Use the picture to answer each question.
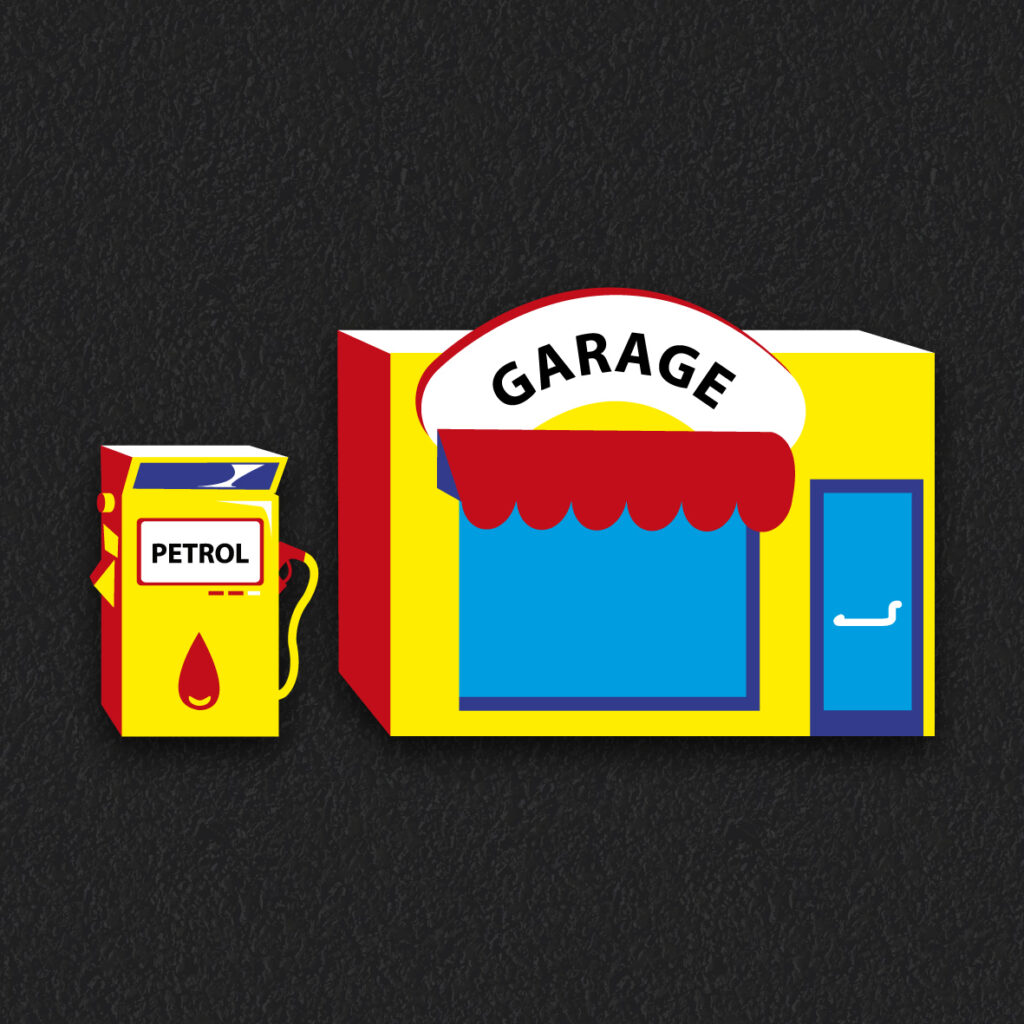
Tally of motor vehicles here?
0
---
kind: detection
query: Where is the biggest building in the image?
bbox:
[338,287,935,736]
